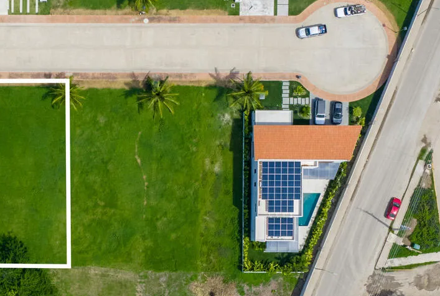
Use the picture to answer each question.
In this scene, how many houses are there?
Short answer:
1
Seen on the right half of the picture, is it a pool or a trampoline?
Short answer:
pool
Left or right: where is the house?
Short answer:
right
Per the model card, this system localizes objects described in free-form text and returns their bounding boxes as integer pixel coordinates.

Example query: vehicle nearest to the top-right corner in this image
[334,2,366,17]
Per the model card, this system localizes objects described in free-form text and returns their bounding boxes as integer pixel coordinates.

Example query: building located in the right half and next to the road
[249,111,362,252]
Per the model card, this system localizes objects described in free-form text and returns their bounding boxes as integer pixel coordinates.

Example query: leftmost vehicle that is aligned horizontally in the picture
[295,23,328,38]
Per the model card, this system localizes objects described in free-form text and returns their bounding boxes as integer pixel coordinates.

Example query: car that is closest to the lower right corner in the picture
[384,195,401,221]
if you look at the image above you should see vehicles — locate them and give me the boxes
[295,23,328,38]
[334,2,366,17]
[314,98,326,125]
[384,195,401,221]
[330,100,343,125]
